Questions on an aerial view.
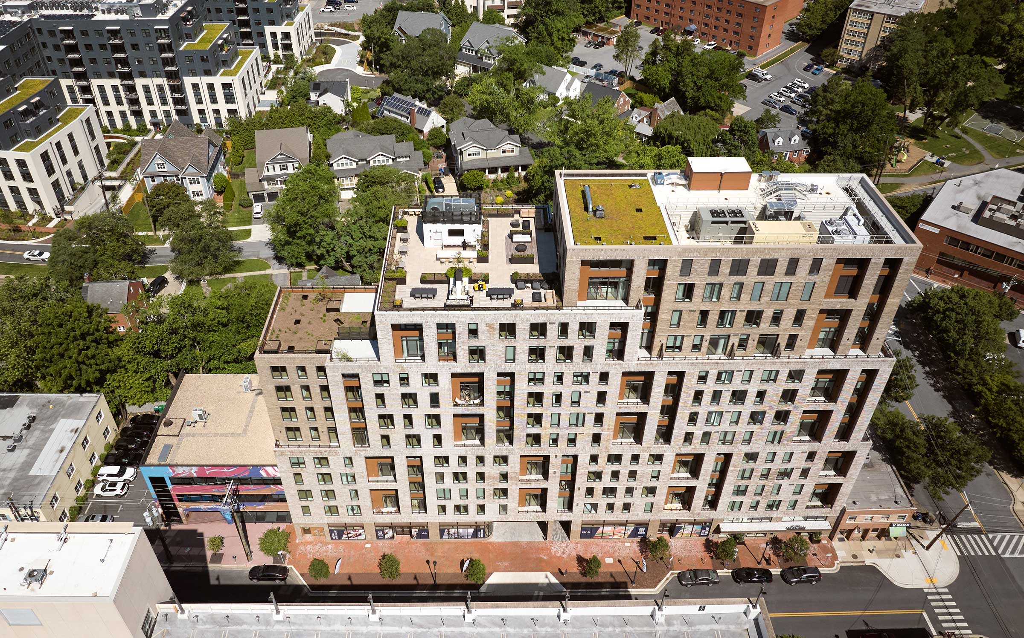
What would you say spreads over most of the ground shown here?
buildings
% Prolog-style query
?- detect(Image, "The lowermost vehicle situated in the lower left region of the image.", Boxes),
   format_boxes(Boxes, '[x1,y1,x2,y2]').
[246,564,287,583]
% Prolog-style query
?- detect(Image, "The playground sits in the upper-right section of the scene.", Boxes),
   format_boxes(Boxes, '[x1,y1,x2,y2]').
[879,138,928,173]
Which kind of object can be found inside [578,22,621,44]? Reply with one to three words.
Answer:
house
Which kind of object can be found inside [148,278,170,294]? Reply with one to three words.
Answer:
car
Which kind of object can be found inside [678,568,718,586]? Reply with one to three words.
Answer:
car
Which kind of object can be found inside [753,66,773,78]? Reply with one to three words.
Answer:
vehicle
